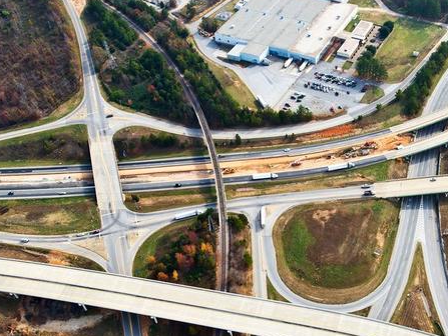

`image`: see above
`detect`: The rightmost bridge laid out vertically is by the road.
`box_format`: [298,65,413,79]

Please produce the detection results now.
[195,111,228,222]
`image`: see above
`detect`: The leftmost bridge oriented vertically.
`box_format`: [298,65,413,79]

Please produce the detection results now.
[88,138,125,207]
